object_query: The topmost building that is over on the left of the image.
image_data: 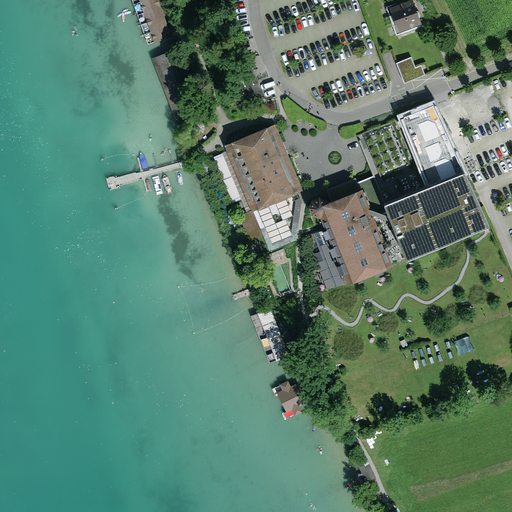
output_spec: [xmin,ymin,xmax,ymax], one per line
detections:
[132,0,166,44]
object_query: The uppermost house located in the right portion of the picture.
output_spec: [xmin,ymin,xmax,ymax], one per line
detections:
[388,0,423,38]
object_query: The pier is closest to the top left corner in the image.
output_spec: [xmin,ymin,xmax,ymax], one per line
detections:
[106,150,182,192]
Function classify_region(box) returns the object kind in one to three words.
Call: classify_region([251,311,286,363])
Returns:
house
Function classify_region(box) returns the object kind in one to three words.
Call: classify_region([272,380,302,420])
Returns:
house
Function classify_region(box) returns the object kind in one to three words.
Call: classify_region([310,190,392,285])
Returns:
building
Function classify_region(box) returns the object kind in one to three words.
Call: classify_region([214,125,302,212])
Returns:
building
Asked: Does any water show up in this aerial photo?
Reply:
Yes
